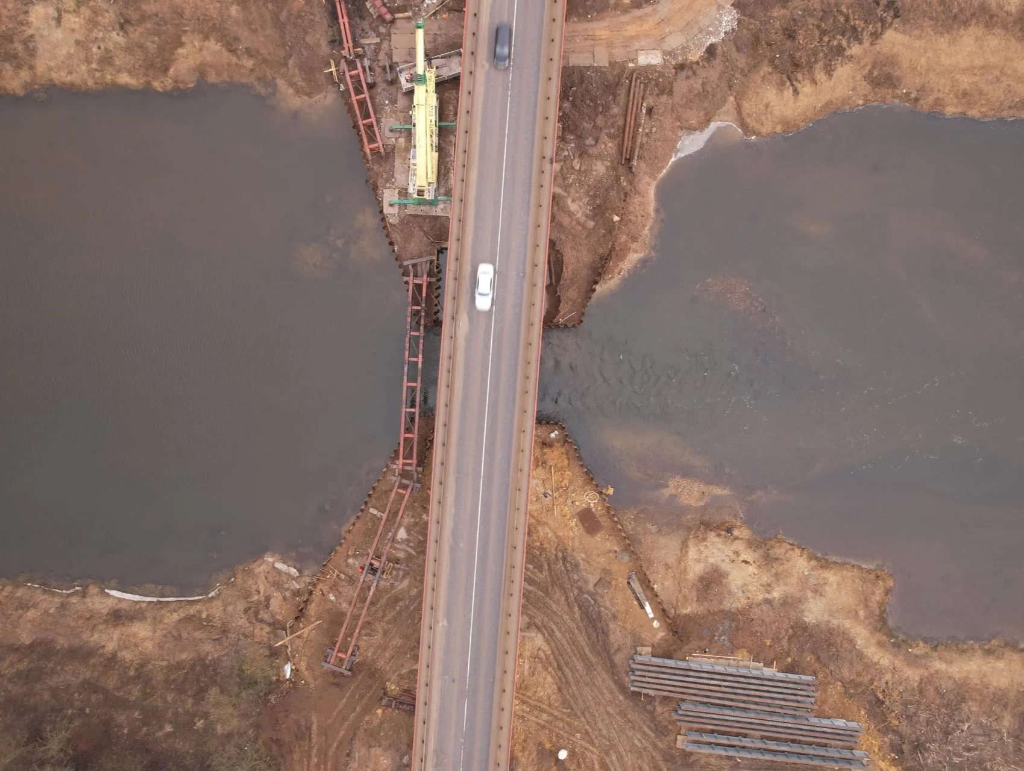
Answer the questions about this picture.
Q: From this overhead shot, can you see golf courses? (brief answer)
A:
No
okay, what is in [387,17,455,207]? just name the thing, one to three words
crane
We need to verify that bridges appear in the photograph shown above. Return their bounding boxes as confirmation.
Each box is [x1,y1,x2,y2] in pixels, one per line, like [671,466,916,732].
[410,0,567,771]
